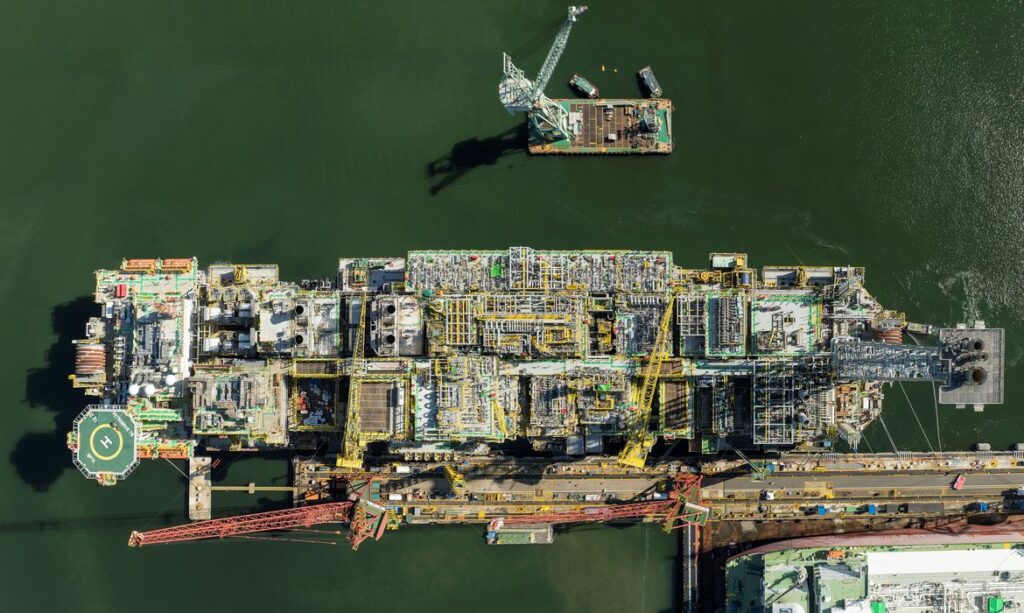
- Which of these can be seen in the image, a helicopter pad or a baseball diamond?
helicopter pad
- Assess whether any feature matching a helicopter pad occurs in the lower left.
Yes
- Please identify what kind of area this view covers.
port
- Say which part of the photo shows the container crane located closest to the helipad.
bottom left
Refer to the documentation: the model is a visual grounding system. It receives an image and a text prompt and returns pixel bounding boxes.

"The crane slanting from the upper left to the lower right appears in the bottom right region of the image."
[731,445,770,482]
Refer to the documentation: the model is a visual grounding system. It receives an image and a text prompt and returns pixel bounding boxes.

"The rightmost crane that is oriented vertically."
[618,290,678,470]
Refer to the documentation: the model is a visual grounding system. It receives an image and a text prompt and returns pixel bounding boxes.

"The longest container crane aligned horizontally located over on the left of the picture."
[121,474,388,548]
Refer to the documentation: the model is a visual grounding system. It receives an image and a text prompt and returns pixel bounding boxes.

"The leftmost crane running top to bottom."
[335,289,369,475]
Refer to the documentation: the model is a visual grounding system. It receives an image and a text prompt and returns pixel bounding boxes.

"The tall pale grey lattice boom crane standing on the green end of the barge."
[499,3,588,142]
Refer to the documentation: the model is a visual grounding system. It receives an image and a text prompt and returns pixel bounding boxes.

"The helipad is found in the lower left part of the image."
[65,404,155,488]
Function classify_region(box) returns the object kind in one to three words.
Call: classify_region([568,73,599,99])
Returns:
boat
